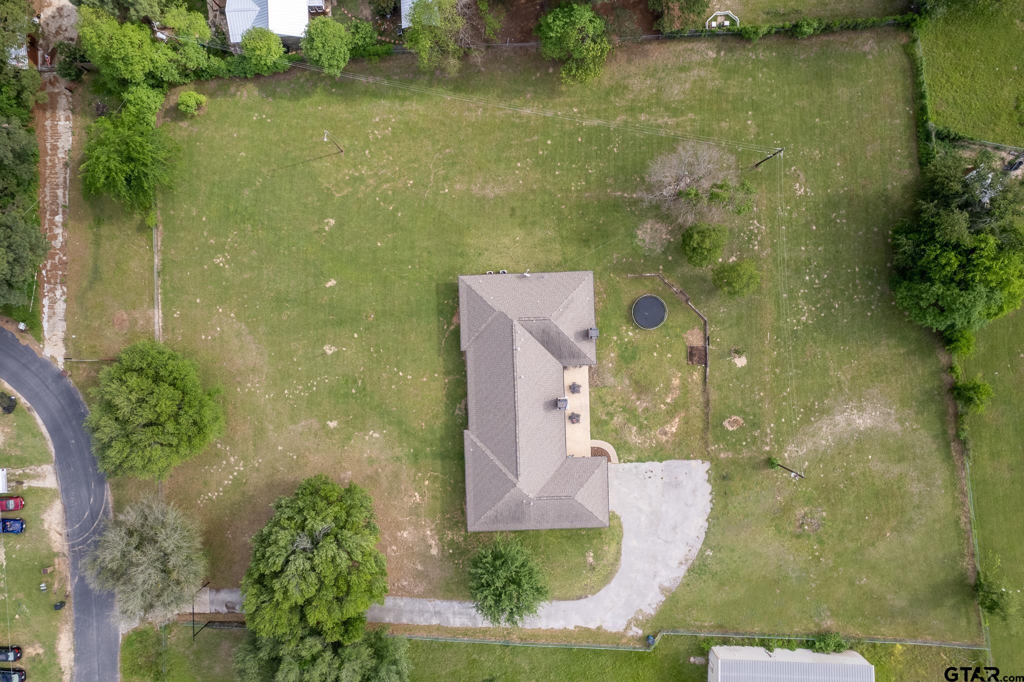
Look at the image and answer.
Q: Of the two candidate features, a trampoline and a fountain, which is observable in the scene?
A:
trampoline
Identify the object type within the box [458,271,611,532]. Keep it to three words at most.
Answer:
house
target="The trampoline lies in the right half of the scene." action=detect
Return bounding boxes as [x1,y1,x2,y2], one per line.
[632,294,667,330]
